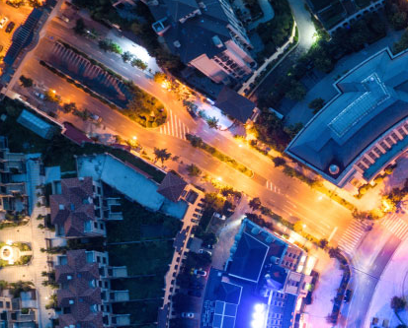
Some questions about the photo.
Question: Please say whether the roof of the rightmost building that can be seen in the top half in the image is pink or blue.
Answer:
blue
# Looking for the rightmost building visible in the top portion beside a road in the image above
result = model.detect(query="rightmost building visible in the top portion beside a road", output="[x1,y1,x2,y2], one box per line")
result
[284,46,408,194]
